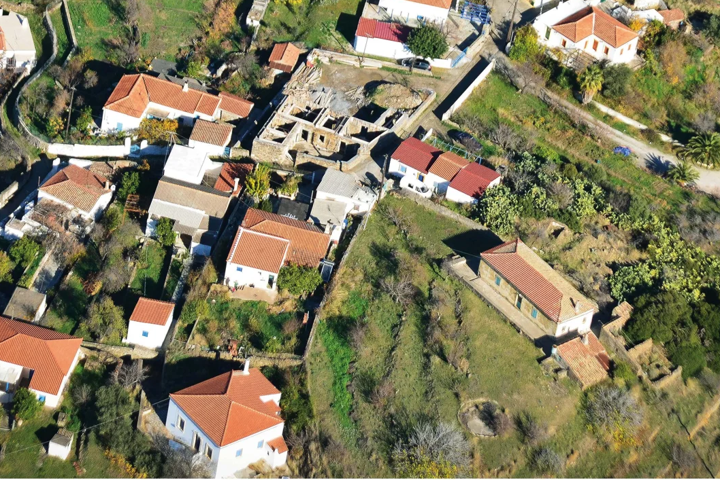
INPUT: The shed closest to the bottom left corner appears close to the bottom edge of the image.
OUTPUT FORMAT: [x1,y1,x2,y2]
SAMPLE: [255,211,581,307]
[50,429,75,459]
